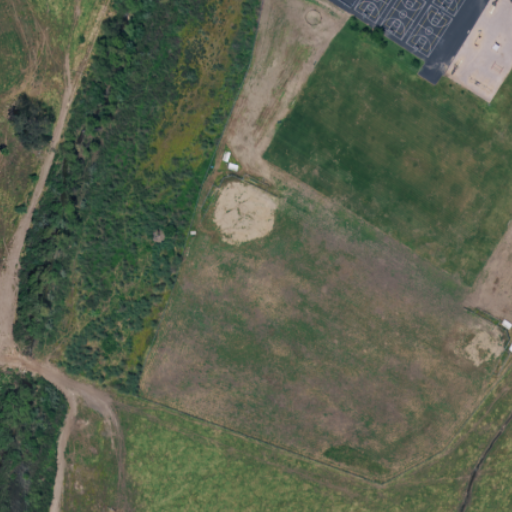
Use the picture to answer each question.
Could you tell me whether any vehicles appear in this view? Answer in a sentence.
No, there appears to be no vehicle in this shot.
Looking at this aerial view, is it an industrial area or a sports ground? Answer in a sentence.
It's a sports ground.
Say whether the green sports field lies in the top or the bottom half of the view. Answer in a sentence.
You can find the green sports field in the top half.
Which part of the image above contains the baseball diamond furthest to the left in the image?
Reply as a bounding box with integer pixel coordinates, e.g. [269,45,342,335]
[141,174,388,442]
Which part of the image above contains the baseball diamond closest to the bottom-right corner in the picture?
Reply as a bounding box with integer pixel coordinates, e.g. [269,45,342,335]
[273,236,509,482]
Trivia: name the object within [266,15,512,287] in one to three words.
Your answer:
sports field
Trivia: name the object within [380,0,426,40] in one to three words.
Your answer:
basketball court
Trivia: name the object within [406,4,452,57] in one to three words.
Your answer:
basketball court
